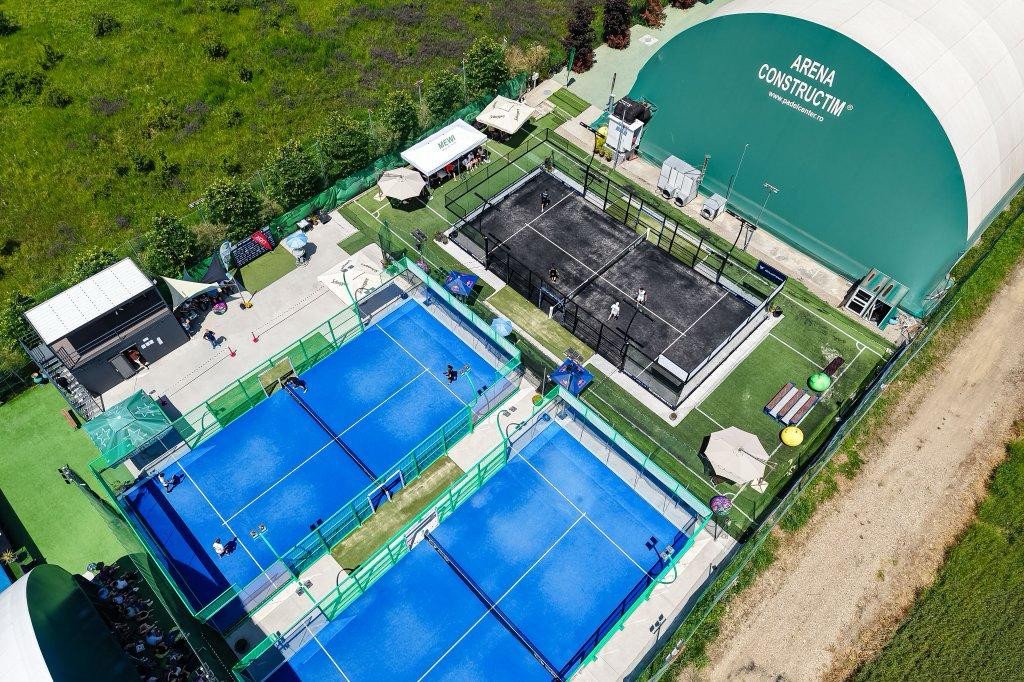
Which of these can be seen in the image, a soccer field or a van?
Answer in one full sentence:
Of the two, only a soccer field appears.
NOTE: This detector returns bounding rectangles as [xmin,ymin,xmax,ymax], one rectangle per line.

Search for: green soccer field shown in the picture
[335,89,912,548]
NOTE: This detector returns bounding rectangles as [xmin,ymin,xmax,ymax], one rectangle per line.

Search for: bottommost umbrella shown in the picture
[703,423,773,494]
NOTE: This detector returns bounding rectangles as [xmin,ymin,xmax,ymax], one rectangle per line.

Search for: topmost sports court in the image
[442,129,791,411]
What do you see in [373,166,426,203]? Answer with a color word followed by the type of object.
white umbrella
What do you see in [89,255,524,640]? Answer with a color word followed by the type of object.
blue sports court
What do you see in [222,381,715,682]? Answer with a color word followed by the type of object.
blue sports court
